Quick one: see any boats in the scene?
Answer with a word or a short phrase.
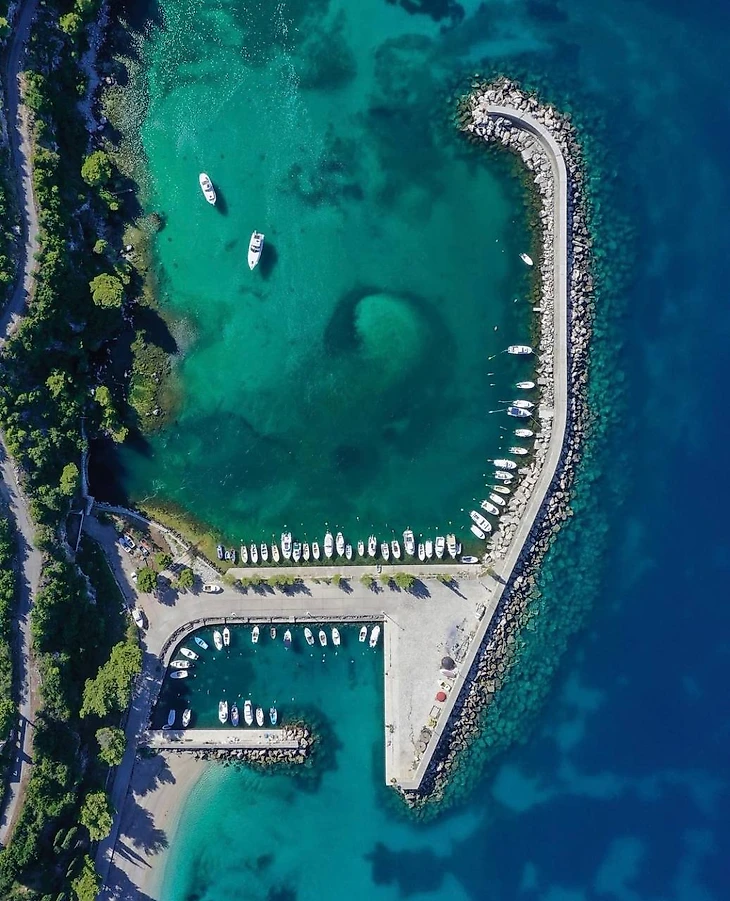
Yes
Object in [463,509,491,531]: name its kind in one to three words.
boat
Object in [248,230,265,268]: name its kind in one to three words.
boat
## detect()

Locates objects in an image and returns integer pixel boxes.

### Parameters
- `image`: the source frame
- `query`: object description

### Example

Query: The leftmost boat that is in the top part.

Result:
[197,170,215,203]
